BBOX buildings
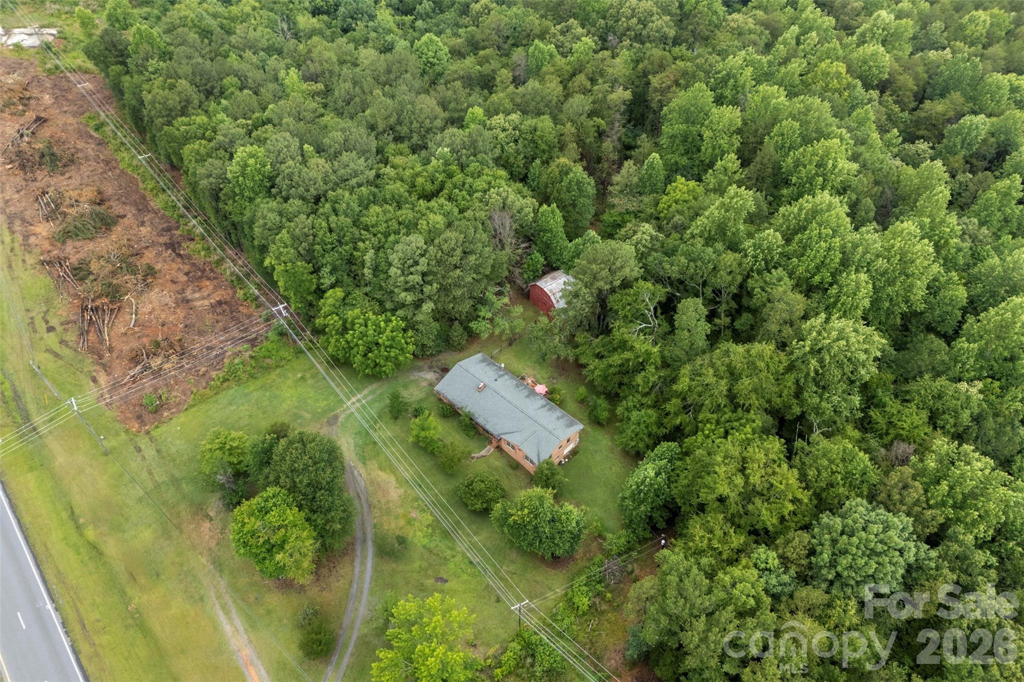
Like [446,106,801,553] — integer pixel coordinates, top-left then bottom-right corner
[528,267,588,322]
[434,354,586,477]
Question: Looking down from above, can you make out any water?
No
